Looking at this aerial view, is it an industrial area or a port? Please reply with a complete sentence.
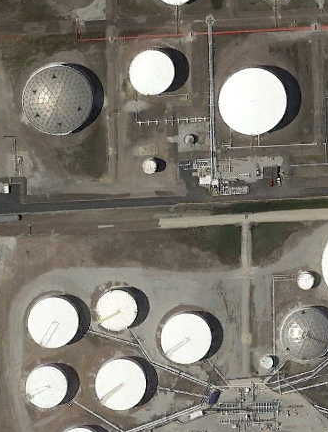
The picture captures an industrial area.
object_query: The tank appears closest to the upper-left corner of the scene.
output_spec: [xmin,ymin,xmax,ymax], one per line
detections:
[22,62,95,137]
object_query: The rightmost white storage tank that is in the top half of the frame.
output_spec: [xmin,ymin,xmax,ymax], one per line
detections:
[217,64,289,138]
